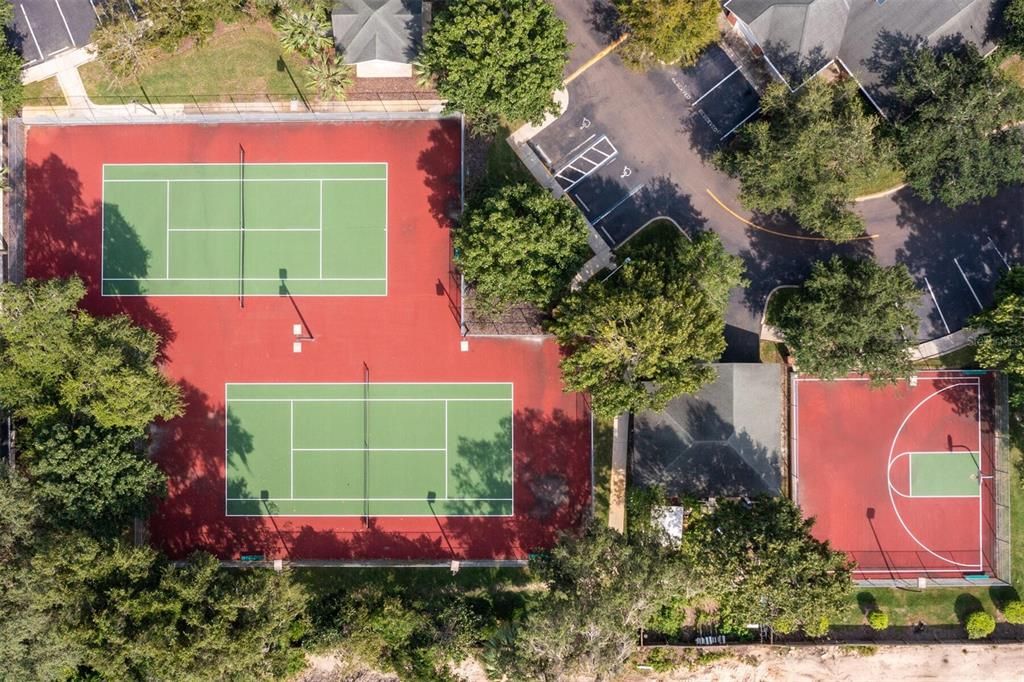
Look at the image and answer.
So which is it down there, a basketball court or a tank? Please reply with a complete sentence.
The image shows a basketball court.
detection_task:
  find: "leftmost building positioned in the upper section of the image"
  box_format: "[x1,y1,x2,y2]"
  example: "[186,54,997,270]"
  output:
[331,0,422,76]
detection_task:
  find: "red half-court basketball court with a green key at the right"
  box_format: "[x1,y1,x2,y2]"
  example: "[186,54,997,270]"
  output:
[793,371,996,578]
